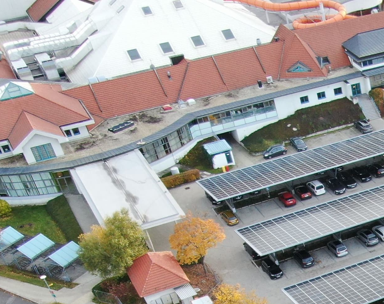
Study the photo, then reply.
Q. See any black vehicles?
Yes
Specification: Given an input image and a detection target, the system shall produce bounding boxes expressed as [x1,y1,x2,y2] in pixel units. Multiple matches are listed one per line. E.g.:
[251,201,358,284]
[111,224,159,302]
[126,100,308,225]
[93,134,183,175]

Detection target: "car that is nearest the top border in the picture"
[354,122,374,135]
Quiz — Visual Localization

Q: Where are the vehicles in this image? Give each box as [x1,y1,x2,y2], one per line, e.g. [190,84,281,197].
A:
[371,227,384,245]
[261,256,284,280]
[221,212,240,228]
[246,247,266,266]
[326,179,347,196]
[204,193,221,208]
[327,241,349,260]
[233,193,249,205]
[306,181,327,198]
[337,174,357,190]
[278,193,298,208]
[263,144,289,158]
[351,165,372,182]
[294,188,314,203]
[293,250,317,270]
[332,165,348,175]
[356,231,381,249]
[289,137,310,151]
[249,189,265,200]
[367,163,384,179]
[354,122,374,135]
